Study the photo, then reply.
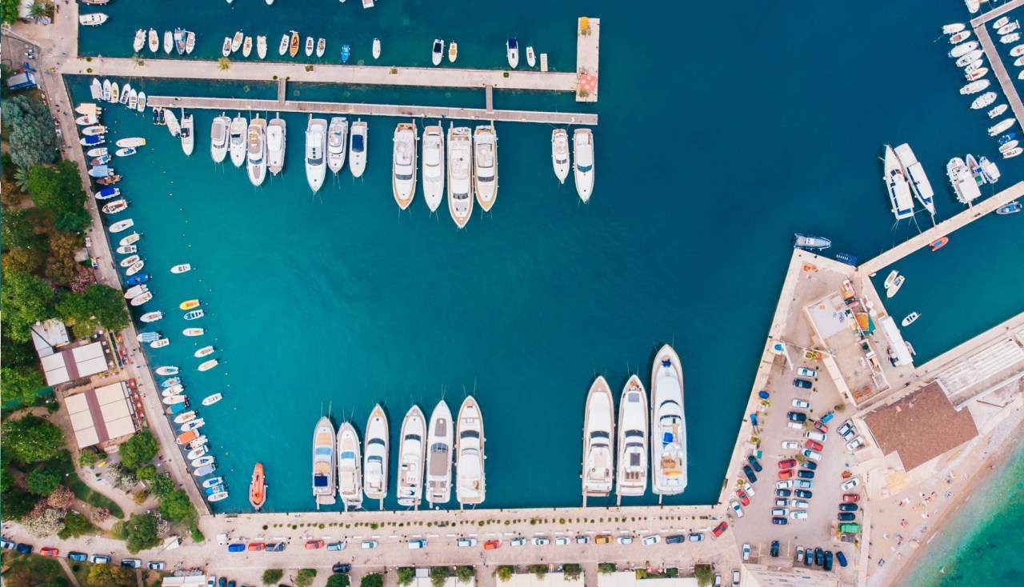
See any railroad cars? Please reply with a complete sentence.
No, there is no railroad car in the image.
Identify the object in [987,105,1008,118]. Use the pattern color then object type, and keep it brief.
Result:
white boat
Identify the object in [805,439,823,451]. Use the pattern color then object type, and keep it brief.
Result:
red vehicle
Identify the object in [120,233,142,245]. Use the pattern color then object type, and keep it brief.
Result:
white boat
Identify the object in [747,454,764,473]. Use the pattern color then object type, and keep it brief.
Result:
blue car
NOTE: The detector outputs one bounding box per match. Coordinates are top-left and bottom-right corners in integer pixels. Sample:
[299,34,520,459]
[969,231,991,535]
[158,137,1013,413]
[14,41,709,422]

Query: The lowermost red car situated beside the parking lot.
[710,521,730,538]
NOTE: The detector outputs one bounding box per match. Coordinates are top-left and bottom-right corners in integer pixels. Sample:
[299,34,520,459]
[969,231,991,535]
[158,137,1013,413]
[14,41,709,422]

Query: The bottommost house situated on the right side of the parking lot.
[860,380,980,472]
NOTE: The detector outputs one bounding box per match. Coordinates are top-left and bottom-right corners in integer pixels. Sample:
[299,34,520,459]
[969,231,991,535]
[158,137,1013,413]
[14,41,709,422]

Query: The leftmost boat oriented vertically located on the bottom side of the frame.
[249,463,268,512]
